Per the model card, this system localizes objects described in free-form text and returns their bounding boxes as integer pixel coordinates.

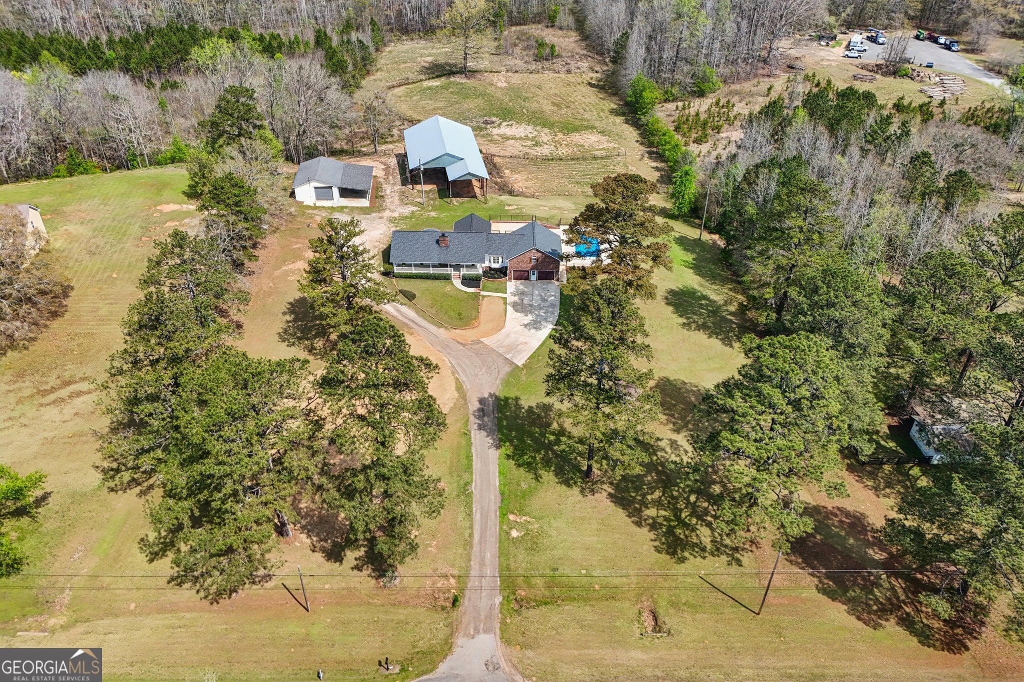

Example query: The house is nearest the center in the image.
[390,214,563,282]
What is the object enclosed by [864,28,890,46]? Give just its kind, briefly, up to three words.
vehicle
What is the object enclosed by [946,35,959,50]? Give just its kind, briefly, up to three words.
vehicle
